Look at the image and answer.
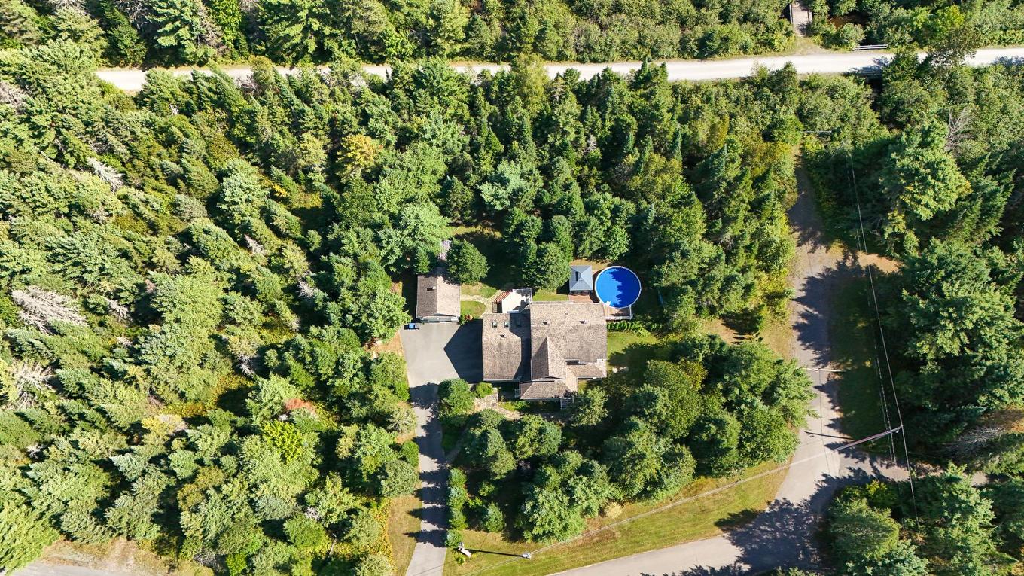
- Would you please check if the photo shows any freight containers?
No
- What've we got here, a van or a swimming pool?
swimming pool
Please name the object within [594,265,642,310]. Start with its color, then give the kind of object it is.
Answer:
blue swimming pool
